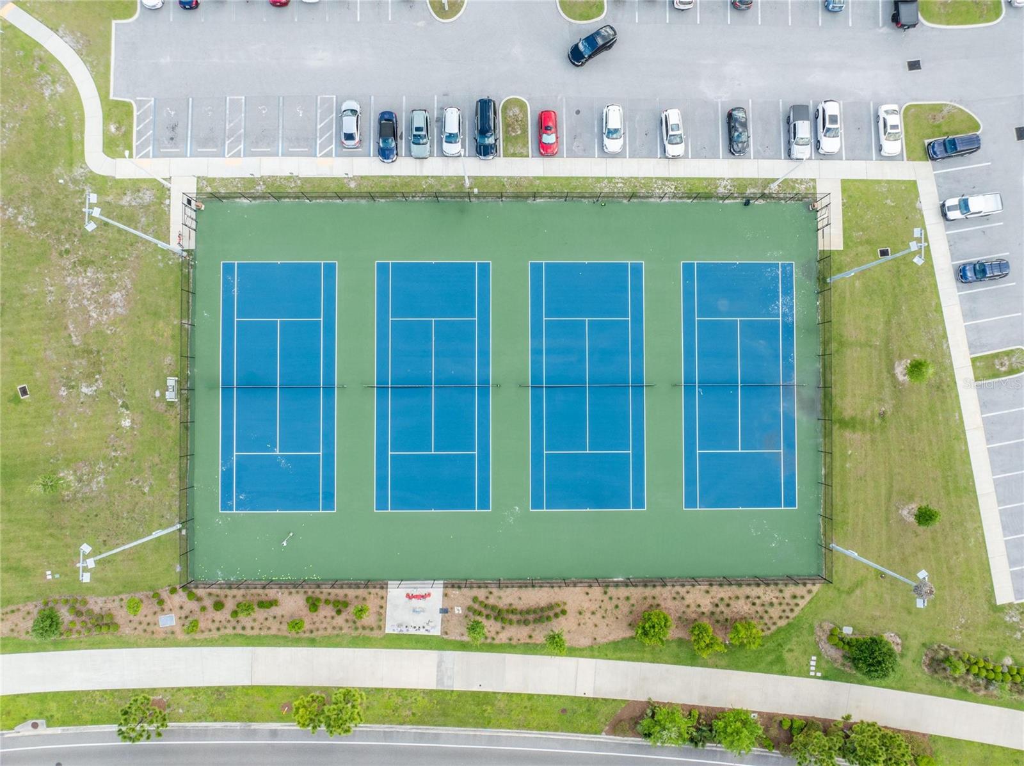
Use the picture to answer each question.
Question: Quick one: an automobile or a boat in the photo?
automobile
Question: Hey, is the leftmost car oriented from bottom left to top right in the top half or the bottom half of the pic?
top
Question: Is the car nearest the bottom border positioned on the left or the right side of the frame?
right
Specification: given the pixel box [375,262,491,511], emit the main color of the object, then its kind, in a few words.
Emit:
blue tennis court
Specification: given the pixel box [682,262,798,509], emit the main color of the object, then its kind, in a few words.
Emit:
blue tennis court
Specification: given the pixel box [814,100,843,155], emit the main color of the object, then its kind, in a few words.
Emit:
white car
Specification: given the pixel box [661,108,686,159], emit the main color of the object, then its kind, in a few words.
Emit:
white car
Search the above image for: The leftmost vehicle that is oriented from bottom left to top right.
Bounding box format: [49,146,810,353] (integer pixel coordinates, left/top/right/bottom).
[567,24,619,68]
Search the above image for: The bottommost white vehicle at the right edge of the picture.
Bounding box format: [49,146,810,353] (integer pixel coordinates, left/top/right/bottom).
[938,191,1006,222]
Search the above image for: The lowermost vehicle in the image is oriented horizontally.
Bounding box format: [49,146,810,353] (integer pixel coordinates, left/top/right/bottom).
[954,258,1011,284]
